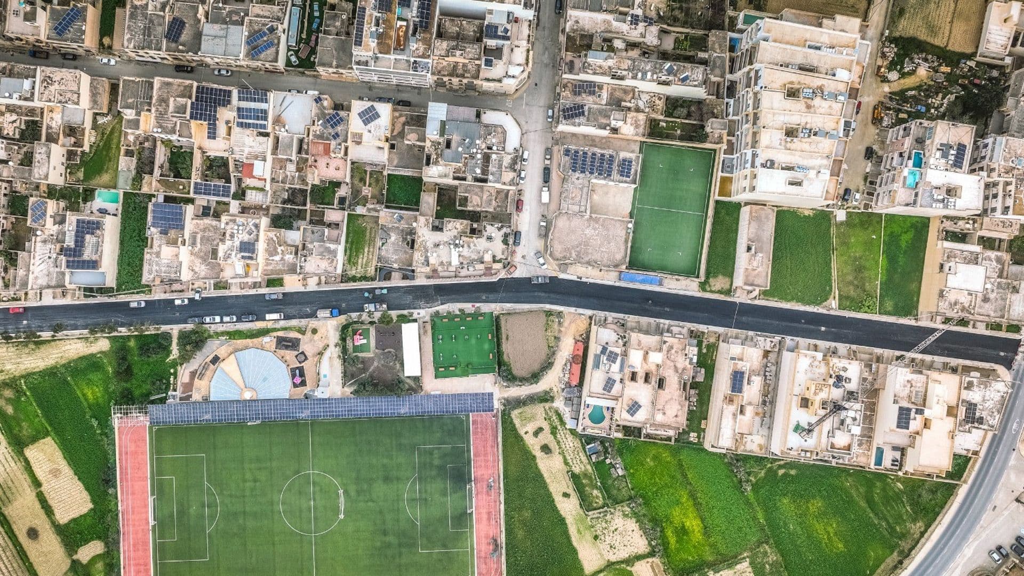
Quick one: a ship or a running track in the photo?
running track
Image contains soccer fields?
Yes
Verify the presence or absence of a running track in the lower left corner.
Yes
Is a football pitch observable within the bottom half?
Yes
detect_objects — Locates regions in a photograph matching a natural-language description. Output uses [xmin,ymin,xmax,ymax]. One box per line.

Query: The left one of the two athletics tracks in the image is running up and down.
[114,420,152,576]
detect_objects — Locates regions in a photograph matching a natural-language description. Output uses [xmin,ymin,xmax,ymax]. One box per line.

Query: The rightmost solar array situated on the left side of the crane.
[732,371,745,394]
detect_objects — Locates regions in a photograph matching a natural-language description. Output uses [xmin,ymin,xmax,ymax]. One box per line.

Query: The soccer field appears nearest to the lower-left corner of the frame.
[150,414,475,576]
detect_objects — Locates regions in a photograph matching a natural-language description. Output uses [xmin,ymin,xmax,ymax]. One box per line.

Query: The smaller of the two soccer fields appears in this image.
[628,144,716,278]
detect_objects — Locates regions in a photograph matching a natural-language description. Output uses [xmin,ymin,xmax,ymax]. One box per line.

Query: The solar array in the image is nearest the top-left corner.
[51,6,80,37]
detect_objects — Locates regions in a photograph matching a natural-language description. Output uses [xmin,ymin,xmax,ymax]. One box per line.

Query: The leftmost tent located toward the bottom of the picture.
[401,322,422,377]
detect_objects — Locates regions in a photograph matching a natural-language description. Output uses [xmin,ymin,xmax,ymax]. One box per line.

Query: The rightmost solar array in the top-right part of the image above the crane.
[956,142,969,169]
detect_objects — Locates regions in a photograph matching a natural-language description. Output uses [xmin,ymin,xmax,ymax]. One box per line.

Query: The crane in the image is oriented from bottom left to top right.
[799,318,964,437]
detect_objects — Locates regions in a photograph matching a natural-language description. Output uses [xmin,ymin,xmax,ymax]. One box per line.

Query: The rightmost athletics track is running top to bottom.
[470,413,504,576]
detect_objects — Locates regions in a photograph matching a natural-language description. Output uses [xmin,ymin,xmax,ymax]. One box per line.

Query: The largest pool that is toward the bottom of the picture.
[588,405,607,426]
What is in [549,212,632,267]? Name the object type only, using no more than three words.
building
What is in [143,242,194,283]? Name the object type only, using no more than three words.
house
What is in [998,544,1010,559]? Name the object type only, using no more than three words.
vehicle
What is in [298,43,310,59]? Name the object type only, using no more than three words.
vehicle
